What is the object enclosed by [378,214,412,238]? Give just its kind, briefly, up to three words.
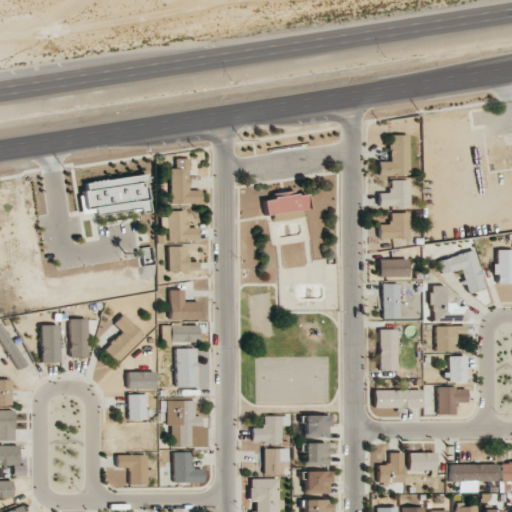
house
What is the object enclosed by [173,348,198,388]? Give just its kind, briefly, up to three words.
house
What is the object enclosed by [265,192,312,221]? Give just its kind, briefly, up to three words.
building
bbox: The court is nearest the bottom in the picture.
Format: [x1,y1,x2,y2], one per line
[256,357,329,405]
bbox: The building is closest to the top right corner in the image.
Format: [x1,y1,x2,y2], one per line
[376,134,412,176]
